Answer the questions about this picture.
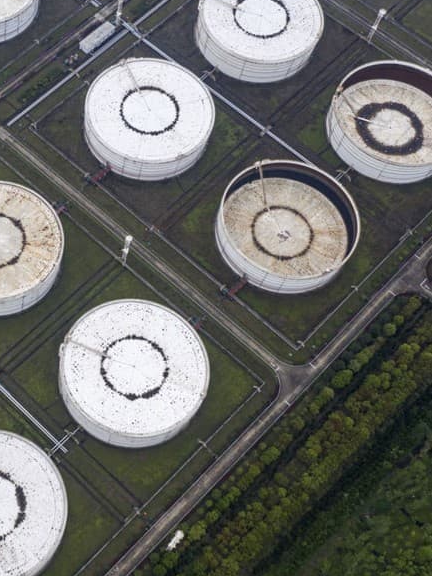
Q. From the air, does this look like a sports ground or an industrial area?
industrial area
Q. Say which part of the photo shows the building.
top left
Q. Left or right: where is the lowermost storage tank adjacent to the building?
left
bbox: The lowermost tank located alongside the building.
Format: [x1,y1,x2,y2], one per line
[80,56,216,182]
